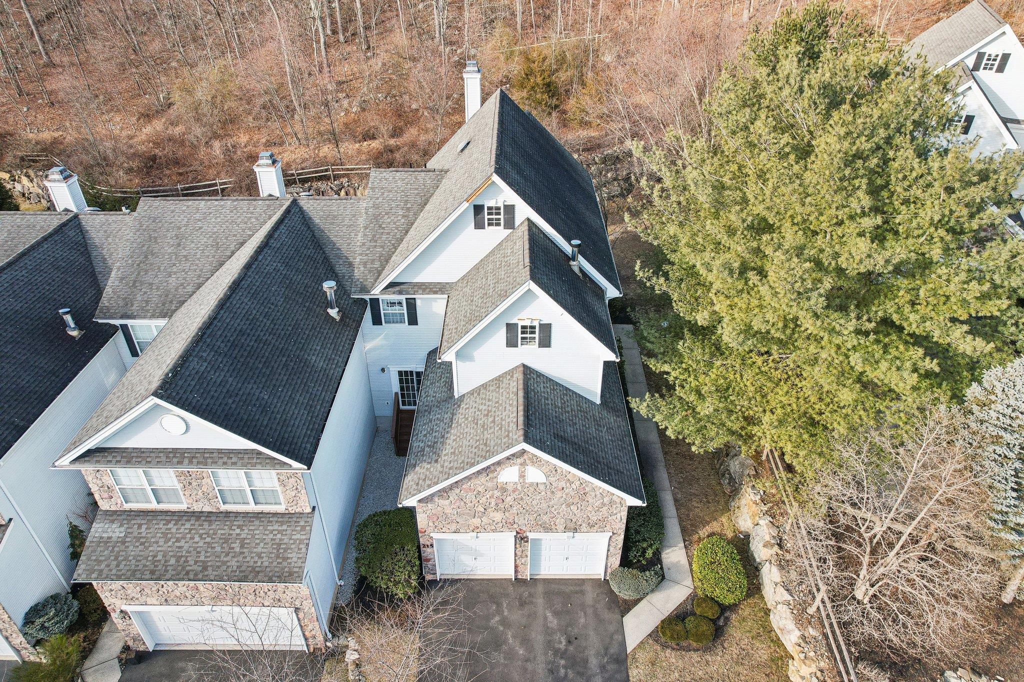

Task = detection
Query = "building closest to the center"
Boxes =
[348,61,650,581]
